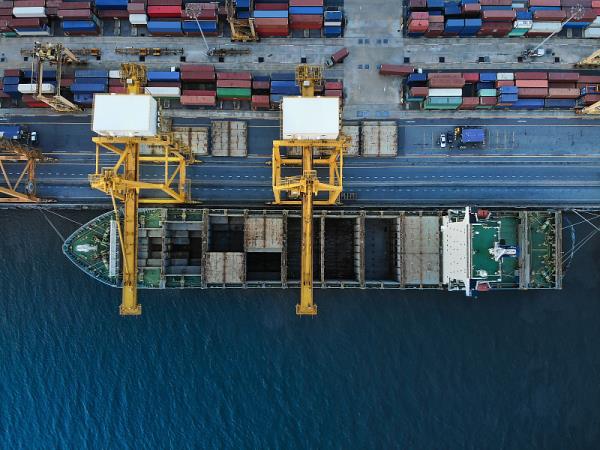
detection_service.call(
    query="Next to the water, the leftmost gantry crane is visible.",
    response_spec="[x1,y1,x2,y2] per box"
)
[0,144,49,202]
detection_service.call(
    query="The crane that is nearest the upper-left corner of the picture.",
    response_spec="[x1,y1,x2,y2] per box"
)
[32,40,83,112]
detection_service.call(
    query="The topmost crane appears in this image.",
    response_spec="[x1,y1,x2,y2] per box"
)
[223,0,257,41]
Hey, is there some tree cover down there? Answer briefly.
No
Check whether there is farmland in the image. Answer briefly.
No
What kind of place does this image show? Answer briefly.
port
